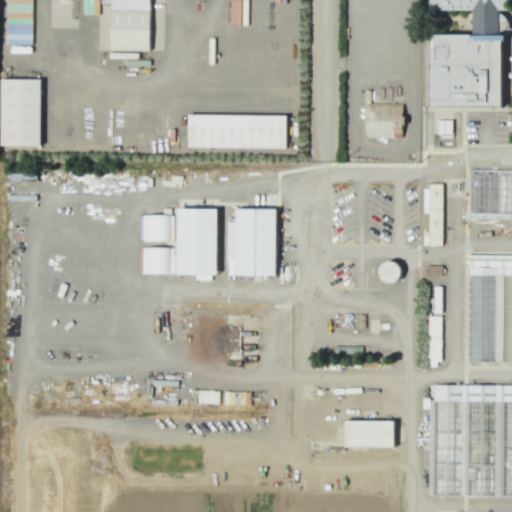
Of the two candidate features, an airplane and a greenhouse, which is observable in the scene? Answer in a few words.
greenhouse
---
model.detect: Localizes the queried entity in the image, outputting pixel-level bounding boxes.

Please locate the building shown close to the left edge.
[0,79,41,147]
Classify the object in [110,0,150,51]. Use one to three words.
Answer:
building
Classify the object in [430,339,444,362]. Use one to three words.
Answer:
building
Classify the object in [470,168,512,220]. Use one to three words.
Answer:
greenhouse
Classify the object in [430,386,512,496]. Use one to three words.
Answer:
greenhouse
